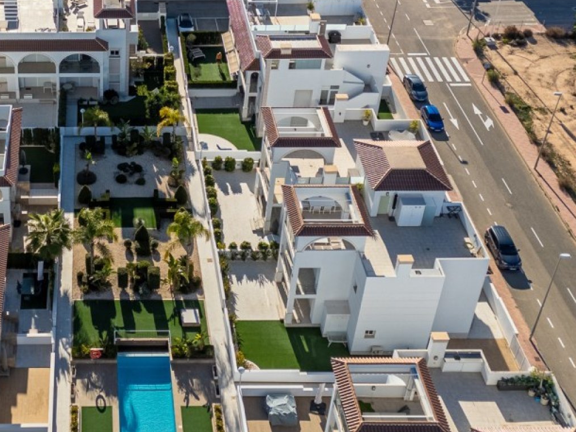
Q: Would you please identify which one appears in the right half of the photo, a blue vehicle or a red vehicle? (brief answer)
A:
blue vehicle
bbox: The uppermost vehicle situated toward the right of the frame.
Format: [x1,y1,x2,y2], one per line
[402,68,430,99]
